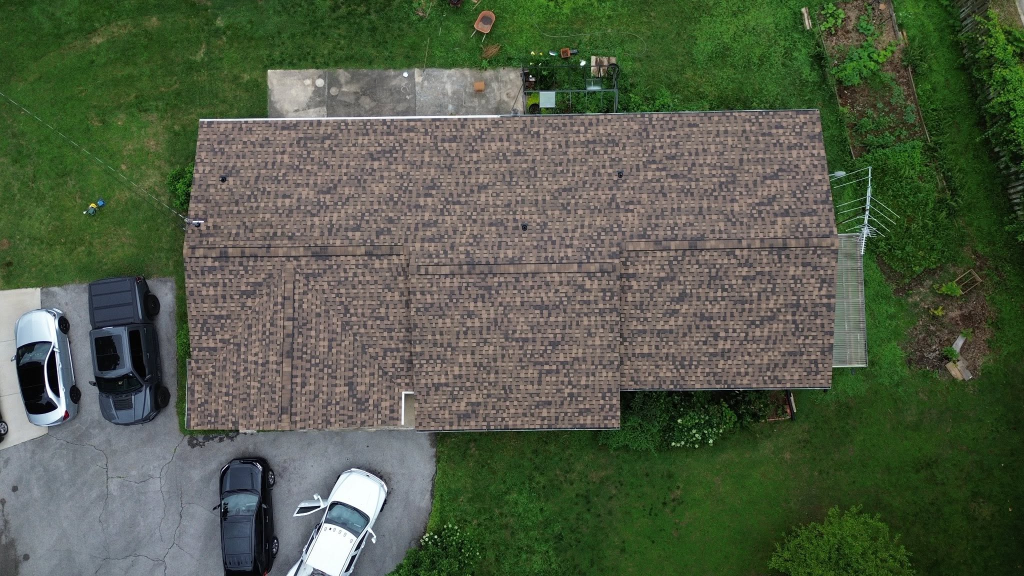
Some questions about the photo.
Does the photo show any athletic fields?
No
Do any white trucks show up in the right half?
No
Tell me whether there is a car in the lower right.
No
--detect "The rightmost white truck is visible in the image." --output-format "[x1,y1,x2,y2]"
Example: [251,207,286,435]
[289,466,392,576]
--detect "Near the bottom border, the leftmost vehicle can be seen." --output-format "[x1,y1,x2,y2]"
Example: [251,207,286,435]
[208,456,278,576]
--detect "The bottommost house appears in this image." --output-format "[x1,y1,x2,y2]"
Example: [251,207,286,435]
[170,107,838,433]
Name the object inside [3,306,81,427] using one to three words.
car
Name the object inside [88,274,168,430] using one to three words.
truck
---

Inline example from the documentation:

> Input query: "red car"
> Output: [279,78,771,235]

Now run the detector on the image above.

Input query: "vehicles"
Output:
[0,420,7,455]
[289,466,392,576]
[208,456,278,576]
[88,274,168,430]
[3,306,81,427]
